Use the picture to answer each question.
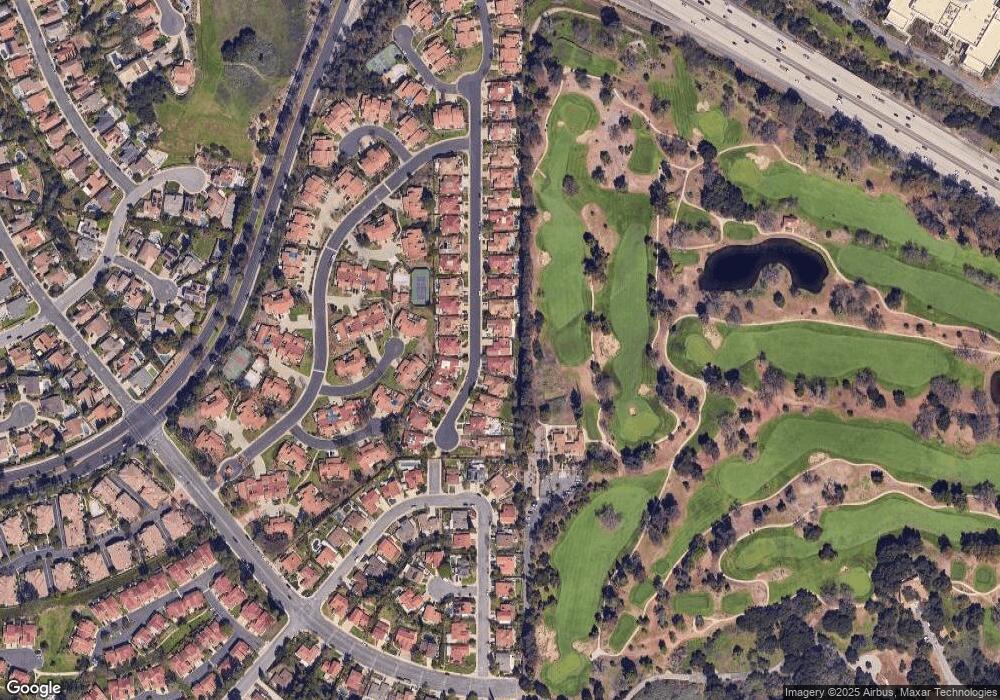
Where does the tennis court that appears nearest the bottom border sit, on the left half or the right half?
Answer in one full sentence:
The tennis court that appears nearest the bottom border appears in the left half of the scene.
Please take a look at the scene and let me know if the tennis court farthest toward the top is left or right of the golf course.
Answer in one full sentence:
From the viewer's perspective, the tennis court farthest toward the top falls to the left of the golf course.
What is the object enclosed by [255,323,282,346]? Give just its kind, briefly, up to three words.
house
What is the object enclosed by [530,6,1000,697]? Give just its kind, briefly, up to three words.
golf course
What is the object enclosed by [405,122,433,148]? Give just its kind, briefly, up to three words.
house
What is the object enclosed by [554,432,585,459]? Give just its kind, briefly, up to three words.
building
